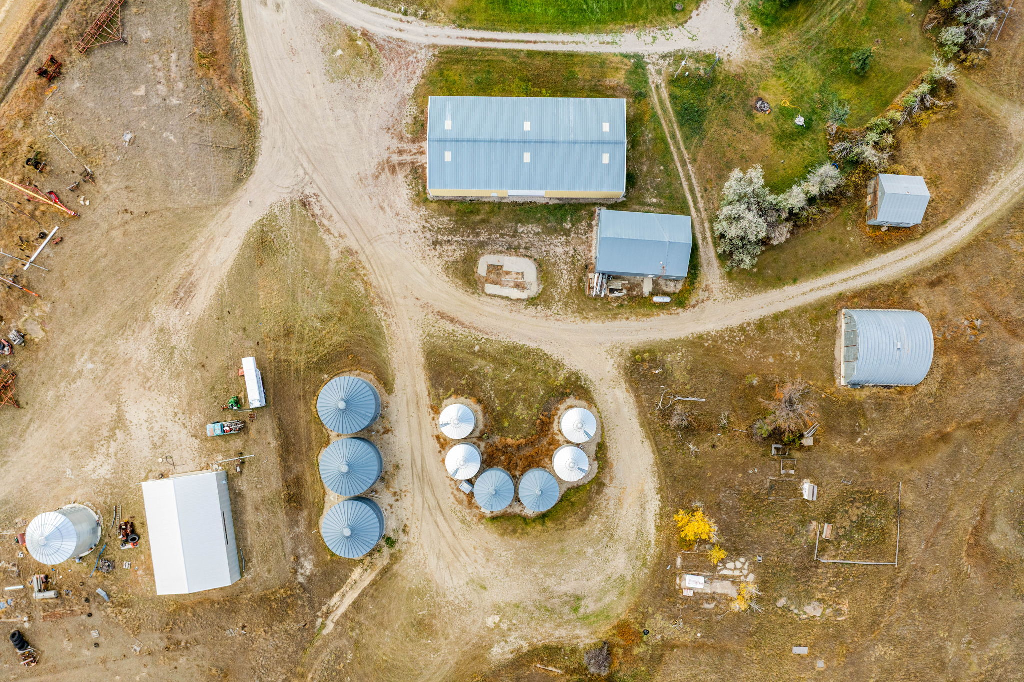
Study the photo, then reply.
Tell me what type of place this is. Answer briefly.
industrial area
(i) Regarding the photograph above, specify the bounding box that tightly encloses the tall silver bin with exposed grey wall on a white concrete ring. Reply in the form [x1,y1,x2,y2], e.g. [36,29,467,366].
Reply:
[26,502,103,565]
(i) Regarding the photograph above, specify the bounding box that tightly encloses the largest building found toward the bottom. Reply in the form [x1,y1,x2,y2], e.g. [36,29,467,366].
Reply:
[136,462,240,596]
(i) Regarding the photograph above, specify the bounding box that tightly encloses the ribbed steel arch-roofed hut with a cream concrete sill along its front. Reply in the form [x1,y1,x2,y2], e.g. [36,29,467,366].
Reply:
[842,308,935,386]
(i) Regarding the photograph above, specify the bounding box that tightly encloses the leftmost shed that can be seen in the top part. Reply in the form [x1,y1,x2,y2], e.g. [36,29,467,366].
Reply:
[427,95,628,197]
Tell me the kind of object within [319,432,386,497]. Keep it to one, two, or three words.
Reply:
silo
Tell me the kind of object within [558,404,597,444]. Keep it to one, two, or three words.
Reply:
silo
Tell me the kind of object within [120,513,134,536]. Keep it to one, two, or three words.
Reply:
work vehicle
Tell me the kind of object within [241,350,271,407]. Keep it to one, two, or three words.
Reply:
trailer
